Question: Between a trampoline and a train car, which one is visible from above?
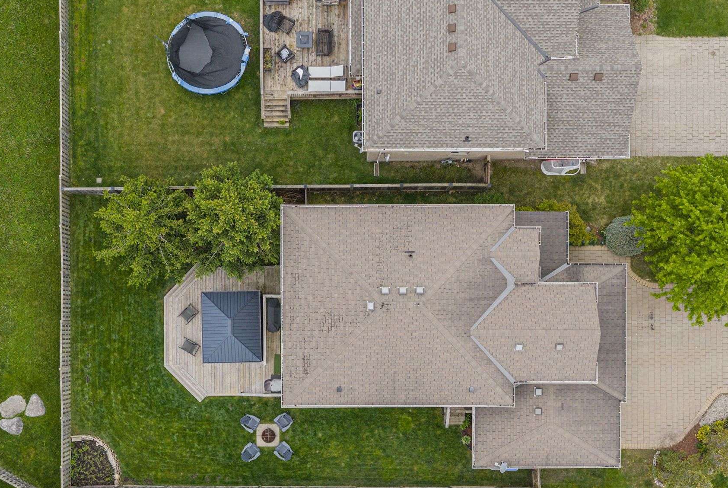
trampoline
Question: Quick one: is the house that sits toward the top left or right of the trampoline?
to the right of it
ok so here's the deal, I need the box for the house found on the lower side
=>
[281,204,626,468]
